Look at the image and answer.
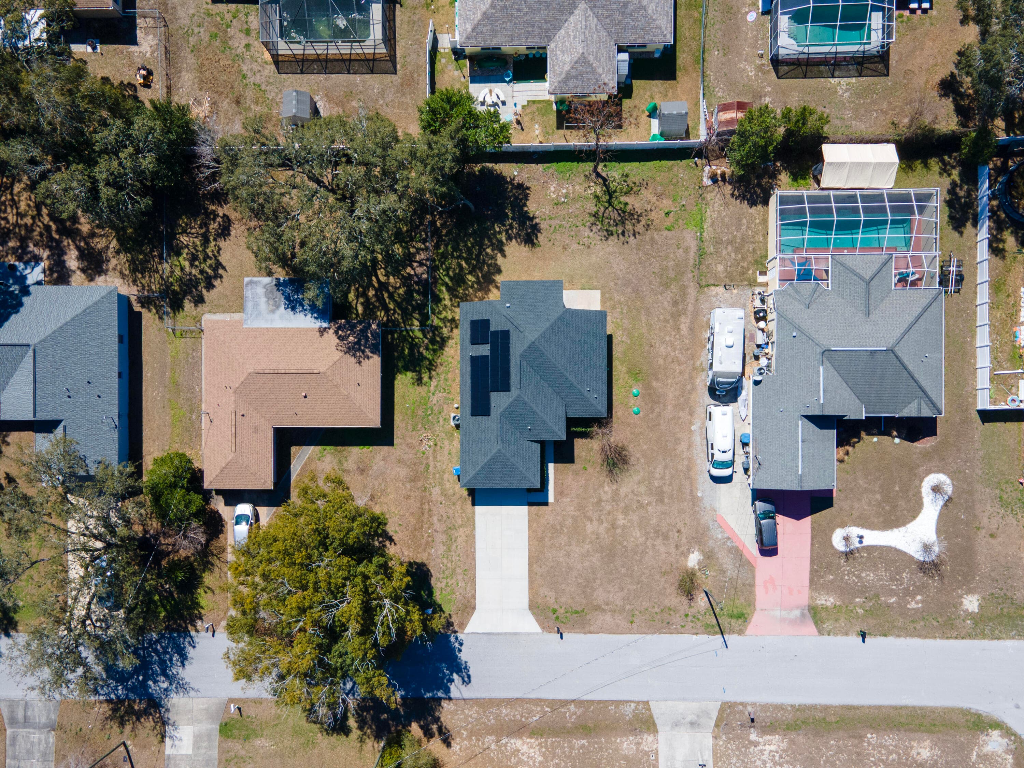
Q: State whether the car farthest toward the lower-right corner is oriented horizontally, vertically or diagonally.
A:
vertically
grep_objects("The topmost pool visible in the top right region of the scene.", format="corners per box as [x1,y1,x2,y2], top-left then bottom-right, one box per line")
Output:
[783,0,871,47]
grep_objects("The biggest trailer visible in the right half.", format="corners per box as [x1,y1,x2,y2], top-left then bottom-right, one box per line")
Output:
[706,308,744,401]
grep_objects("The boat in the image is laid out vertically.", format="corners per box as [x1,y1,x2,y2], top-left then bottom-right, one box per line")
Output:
[737,376,749,421]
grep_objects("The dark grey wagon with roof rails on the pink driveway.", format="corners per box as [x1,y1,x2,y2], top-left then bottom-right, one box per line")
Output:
[751,496,778,548]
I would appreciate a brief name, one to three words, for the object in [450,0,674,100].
house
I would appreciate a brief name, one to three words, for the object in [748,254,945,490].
house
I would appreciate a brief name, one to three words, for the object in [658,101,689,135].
shed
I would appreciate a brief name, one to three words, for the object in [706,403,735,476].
van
